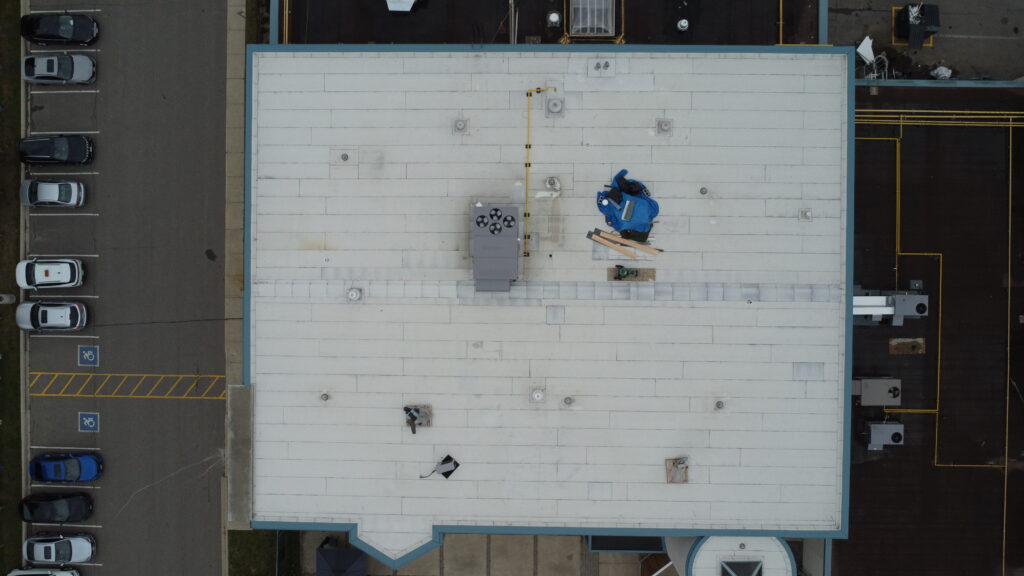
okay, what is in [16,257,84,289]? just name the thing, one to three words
car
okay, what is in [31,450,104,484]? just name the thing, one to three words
car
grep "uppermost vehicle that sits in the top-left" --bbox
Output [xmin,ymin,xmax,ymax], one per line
[20,11,98,48]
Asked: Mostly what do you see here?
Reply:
buildings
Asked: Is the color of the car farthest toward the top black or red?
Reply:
black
